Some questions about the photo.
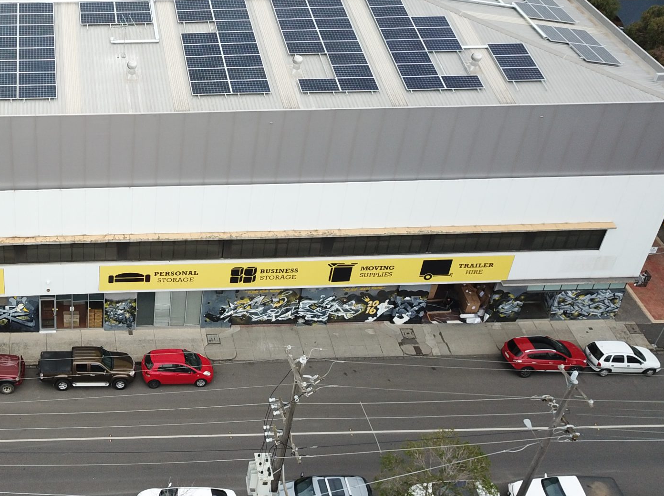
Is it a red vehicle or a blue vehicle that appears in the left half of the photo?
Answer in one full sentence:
The one visible in the left half of the photo is a red vehicle.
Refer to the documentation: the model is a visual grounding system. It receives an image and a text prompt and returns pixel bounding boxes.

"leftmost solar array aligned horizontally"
[80,0,151,27]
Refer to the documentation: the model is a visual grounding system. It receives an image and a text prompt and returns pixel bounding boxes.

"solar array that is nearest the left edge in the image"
[0,5,56,104]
